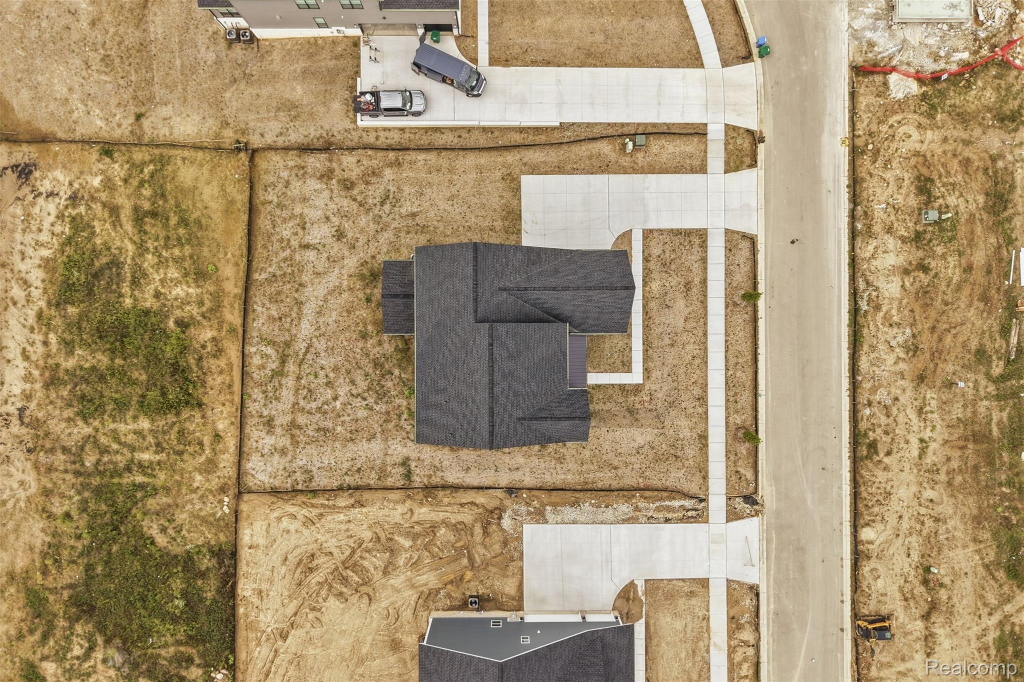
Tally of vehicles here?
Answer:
three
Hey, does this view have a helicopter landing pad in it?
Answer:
No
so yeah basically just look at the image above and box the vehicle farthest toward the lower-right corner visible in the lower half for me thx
[860,617,897,645]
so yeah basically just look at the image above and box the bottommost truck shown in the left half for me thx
[354,86,427,116]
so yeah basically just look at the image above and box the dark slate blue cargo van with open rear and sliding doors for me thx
[406,34,487,97]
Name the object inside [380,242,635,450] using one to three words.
house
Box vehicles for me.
[354,86,427,116]
[860,617,897,645]
[406,34,487,97]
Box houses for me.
[195,0,473,56]
[417,607,634,682]
[380,242,635,450]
